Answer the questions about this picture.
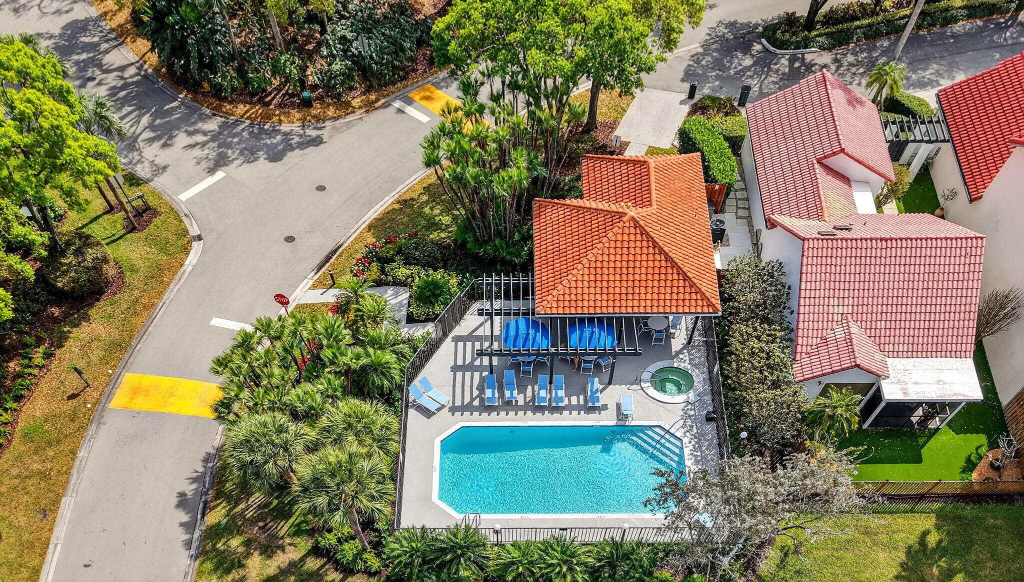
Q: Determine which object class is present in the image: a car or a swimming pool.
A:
swimming pool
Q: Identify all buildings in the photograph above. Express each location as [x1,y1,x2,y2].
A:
[740,71,988,431]
[531,150,723,347]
